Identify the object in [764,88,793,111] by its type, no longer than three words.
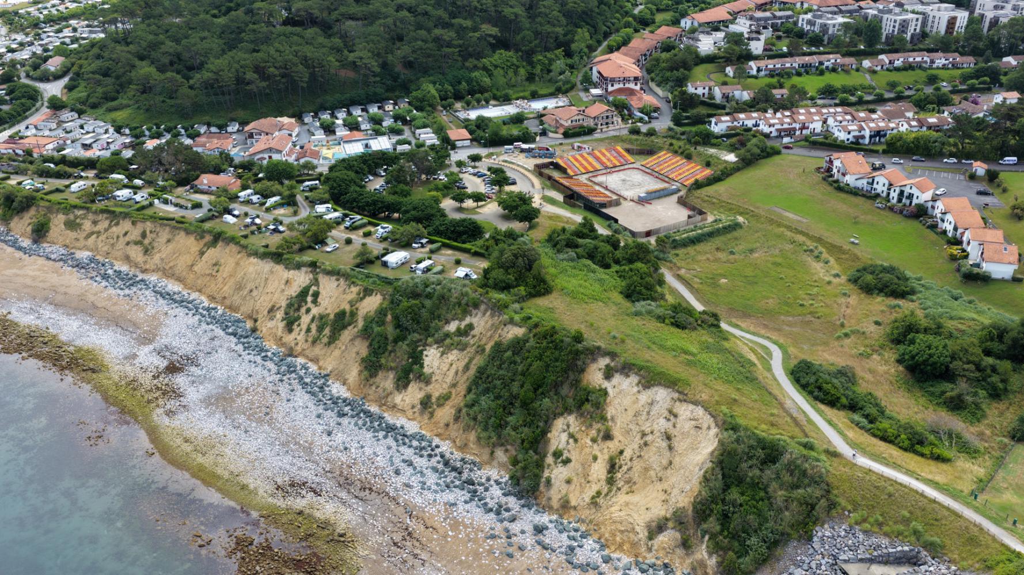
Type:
house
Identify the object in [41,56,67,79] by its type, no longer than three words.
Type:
house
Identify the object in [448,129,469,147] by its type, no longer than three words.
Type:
building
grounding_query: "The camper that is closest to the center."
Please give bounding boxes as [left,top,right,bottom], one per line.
[450,265,477,280]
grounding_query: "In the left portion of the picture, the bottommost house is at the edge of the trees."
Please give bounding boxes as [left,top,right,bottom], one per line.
[190,173,249,201]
